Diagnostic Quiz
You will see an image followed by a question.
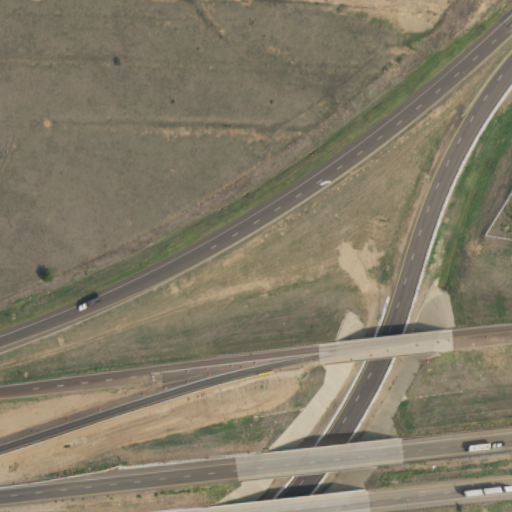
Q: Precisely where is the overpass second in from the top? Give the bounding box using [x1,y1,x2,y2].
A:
[236,438,404,481]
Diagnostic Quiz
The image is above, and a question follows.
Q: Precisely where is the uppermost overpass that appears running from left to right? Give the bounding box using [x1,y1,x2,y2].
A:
[320,329,454,363]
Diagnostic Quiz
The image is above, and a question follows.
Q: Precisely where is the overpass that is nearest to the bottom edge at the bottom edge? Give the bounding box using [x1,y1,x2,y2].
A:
[202,489,370,512]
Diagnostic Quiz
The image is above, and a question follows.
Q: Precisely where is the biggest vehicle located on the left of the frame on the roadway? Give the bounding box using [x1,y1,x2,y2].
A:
[78,296,103,312]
